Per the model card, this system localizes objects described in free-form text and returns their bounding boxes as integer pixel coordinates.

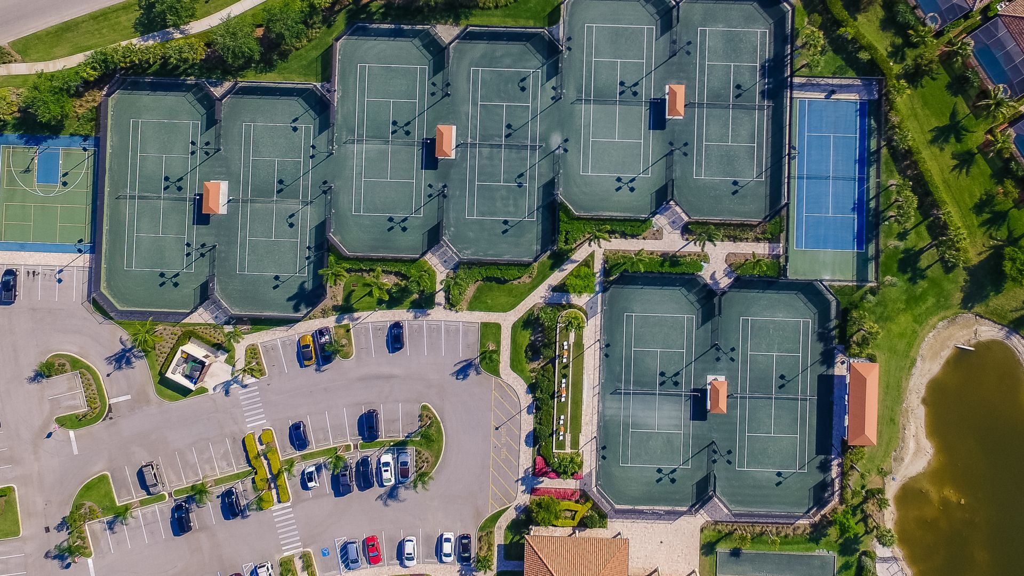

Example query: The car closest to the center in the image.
[390,321,404,352]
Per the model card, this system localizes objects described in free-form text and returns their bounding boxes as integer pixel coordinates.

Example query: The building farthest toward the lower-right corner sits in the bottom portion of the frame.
[845,359,880,447]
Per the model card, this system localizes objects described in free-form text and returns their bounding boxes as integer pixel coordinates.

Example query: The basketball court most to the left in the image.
[0,134,99,253]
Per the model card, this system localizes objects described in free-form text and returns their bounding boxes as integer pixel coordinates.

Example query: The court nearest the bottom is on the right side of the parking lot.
[716,550,835,576]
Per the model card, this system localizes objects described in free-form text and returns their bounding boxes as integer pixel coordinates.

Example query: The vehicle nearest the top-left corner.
[0,268,20,304]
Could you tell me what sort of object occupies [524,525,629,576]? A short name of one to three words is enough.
building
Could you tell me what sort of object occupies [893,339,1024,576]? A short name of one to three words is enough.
pond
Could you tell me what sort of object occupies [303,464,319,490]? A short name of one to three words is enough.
car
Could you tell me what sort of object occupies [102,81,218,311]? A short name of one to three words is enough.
tennis court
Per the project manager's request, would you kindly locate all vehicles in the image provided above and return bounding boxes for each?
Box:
[292,419,310,451]
[346,538,362,569]
[0,268,20,304]
[403,535,417,566]
[224,488,242,517]
[303,464,319,490]
[379,452,395,486]
[397,451,412,482]
[142,461,163,492]
[313,325,333,362]
[367,534,383,564]
[299,334,316,366]
[364,407,381,441]
[458,533,472,563]
[358,456,375,490]
[337,459,356,495]
[173,501,194,534]
[255,558,272,576]
[441,531,455,562]
[390,321,404,352]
